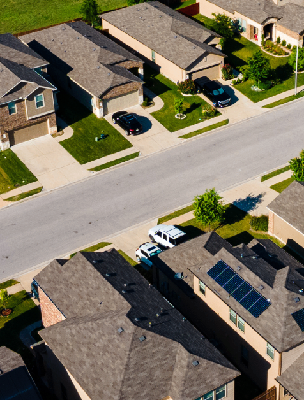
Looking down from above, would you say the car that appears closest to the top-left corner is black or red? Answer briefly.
black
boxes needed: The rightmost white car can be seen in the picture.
[148,223,182,245]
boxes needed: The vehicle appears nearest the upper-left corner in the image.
[109,109,142,133]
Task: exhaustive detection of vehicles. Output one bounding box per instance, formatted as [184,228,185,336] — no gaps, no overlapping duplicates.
[197,76,236,104]
[109,109,142,133]
[34,284,43,302]
[148,223,182,245]
[136,245,157,278]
